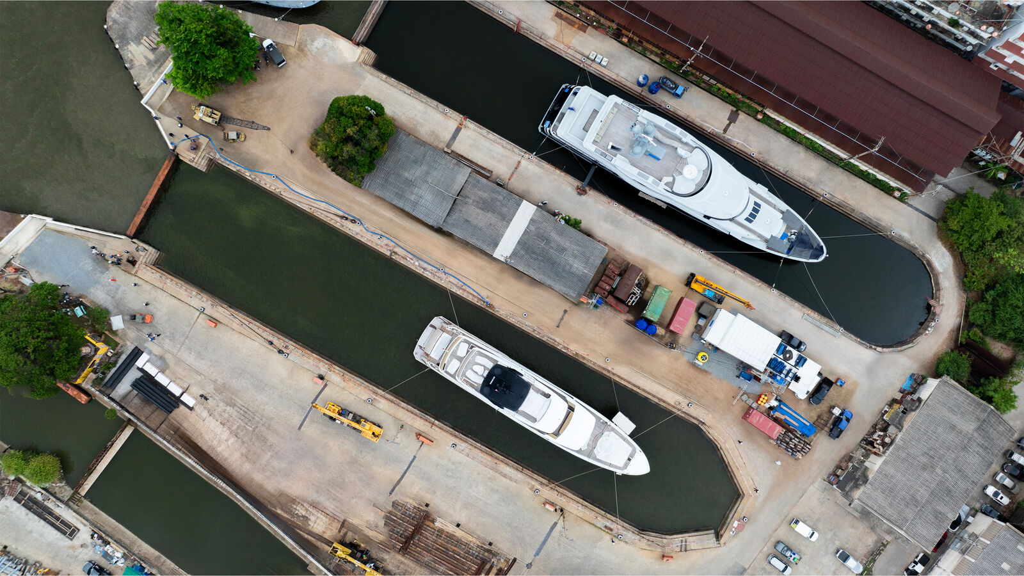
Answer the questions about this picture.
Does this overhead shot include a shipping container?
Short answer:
Yes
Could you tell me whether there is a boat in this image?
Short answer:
Yes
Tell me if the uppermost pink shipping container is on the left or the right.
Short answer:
right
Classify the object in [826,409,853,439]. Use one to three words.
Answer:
truck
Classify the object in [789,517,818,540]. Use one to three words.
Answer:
vehicle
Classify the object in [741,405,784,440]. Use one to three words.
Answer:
shipping container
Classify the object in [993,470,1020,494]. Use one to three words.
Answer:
car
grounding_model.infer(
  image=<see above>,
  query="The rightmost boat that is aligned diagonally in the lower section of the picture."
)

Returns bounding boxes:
[413,316,650,475]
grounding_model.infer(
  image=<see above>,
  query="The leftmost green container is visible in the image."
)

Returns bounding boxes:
[641,284,672,322]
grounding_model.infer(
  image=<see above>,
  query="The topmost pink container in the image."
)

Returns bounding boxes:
[665,296,697,335]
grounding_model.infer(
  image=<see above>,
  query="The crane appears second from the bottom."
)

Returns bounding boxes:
[310,400,385,442]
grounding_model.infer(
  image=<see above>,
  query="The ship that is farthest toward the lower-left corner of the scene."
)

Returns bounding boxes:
[59,384,94,404]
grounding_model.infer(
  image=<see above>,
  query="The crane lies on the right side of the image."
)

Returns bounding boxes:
[683,273,756,310]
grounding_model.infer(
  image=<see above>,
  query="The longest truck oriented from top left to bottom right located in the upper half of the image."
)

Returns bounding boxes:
[262,39,287,69]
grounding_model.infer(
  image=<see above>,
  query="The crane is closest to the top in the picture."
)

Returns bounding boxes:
[191,103,272,132]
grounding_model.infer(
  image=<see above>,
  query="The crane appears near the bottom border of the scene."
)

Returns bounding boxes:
[328,539,389,576]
